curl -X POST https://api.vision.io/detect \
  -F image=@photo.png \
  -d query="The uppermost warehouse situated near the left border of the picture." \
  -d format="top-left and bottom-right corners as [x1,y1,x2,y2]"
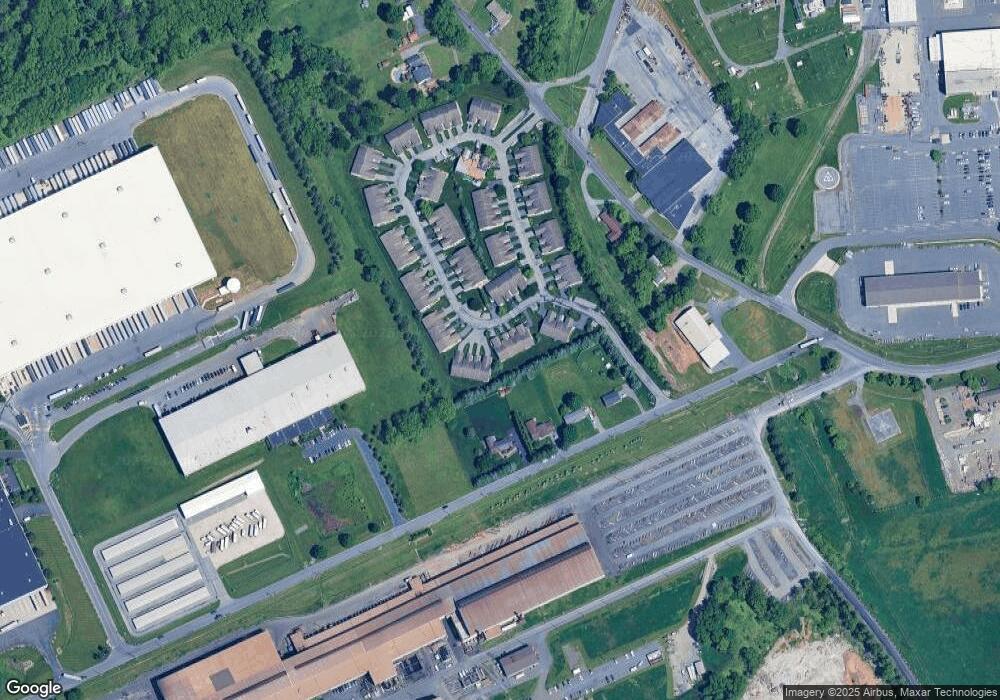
[0,147,220,375]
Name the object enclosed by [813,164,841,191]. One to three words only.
helipad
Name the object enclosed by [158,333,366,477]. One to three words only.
building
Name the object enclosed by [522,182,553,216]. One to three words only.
house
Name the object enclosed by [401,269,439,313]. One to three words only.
house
